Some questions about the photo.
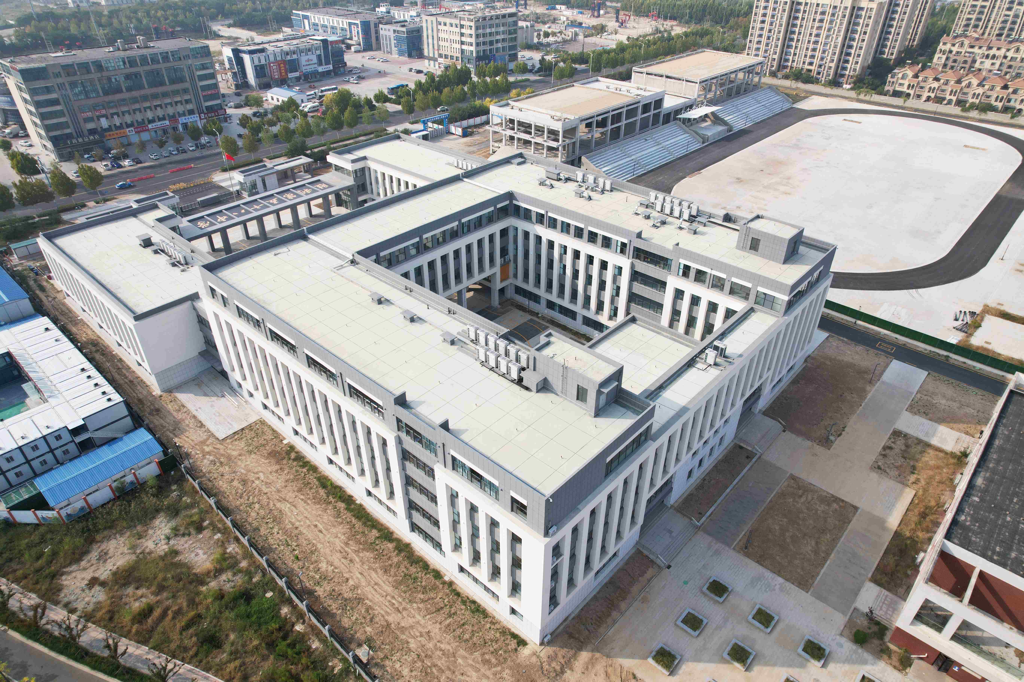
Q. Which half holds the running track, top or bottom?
top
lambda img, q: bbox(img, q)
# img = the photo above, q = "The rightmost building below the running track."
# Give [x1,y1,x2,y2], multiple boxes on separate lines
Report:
[892,368,1024,682]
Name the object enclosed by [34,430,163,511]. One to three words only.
shed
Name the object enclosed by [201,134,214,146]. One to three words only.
vehicle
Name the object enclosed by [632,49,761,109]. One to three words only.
building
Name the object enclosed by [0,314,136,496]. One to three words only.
building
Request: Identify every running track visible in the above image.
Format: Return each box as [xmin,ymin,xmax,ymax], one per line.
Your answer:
[629,107,1024,290]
